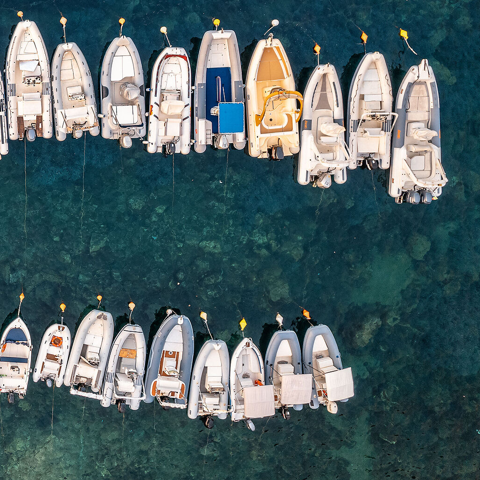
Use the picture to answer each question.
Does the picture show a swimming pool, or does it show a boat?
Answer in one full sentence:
Of the two, only a boat appears.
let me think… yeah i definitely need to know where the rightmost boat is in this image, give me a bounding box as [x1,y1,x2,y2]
[390,54,448,204]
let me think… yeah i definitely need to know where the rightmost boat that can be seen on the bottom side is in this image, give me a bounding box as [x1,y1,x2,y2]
[304,325,354,414]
